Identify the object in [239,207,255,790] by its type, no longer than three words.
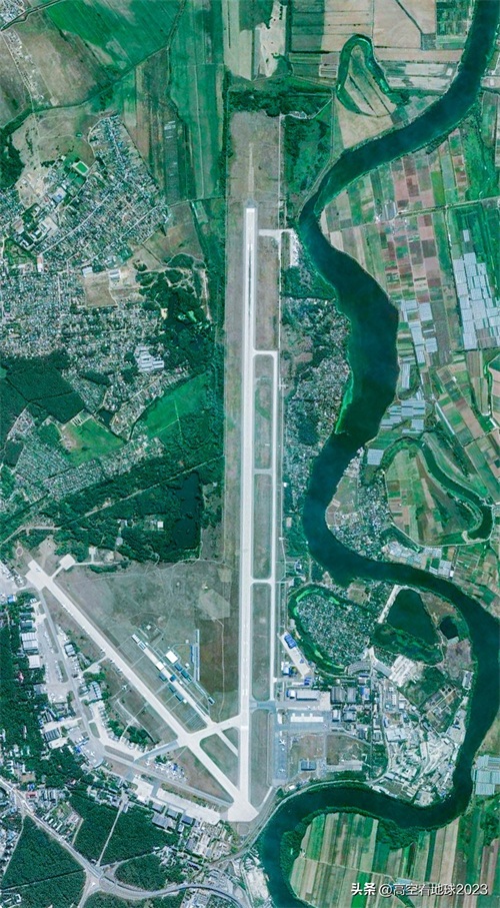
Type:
runway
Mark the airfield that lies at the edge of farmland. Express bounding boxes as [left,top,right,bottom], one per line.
[0,135,331,825]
